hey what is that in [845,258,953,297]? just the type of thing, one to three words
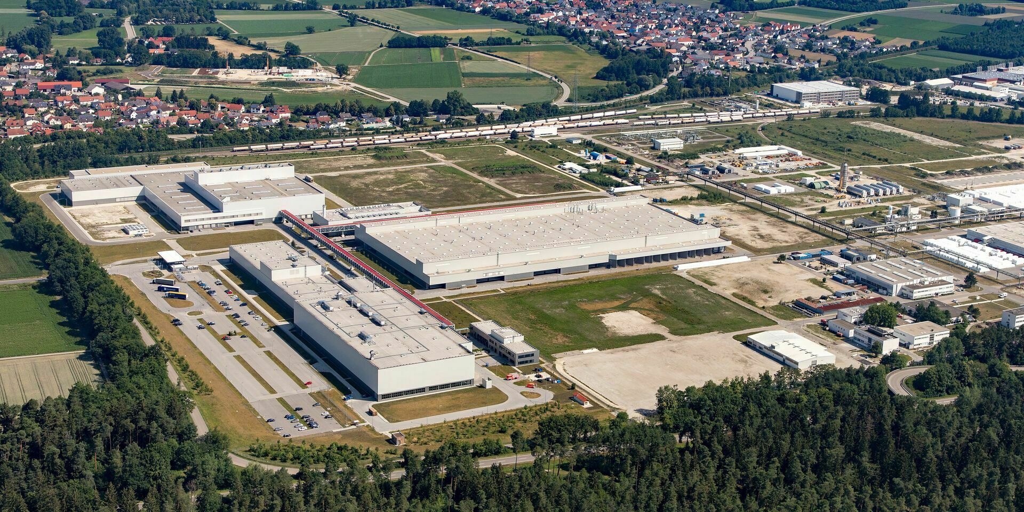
building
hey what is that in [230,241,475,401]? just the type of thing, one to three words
building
